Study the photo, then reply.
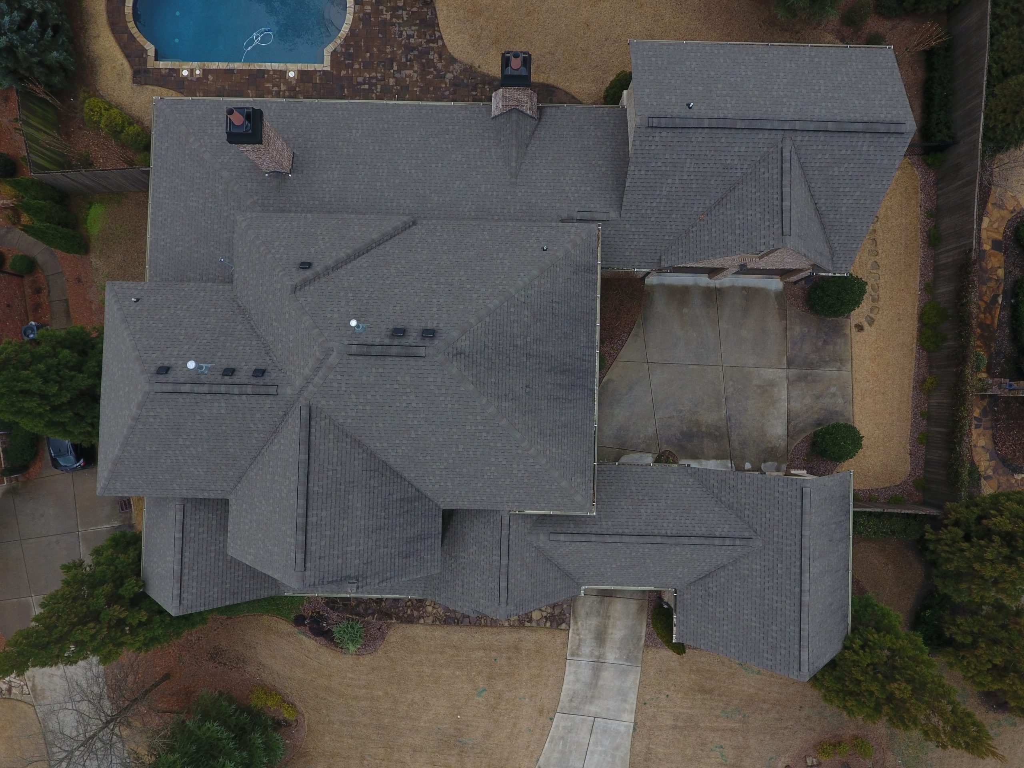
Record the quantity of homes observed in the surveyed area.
1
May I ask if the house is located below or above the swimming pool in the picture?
below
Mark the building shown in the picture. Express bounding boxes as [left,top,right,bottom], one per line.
[96,38,918,682]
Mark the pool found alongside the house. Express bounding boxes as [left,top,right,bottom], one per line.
[125,0,354,70]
